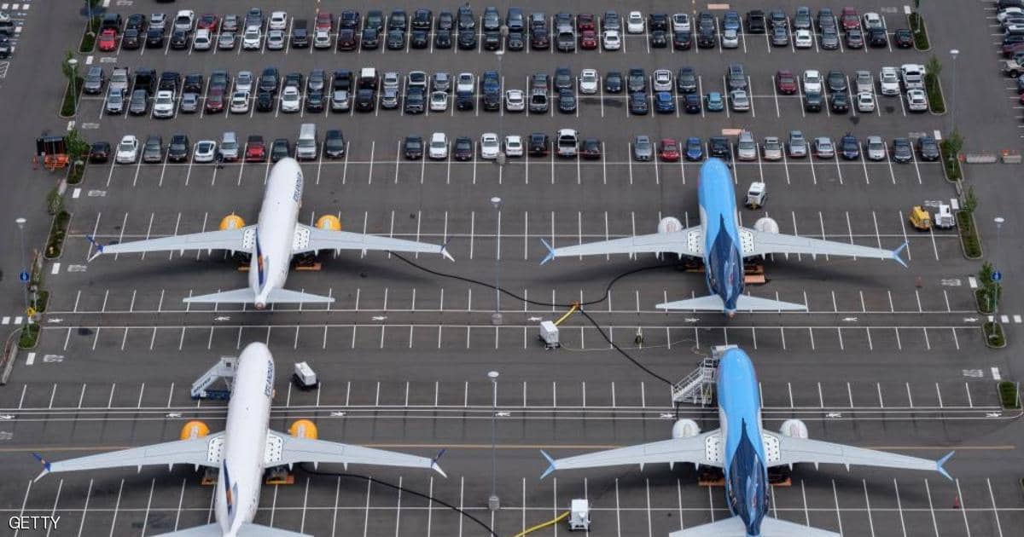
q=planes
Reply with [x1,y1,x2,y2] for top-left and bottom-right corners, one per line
[541,348,956,537]
[540,157,909,318]
[86,157,454,310]
[31,341,446,537]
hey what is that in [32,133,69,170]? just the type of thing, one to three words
trailer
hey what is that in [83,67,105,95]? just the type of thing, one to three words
vehicle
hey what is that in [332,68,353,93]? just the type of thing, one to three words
truck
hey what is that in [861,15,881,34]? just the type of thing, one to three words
car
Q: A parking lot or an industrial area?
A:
parking lot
